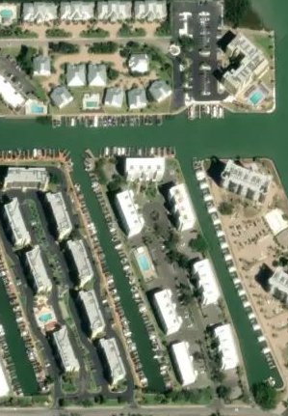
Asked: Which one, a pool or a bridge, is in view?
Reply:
pool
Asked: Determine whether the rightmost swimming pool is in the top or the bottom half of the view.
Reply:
top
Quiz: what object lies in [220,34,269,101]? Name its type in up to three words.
building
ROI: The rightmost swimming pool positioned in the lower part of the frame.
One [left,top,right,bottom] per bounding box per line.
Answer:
[134,245,156,280]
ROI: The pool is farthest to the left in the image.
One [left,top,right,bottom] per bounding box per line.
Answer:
[0,3,16,25]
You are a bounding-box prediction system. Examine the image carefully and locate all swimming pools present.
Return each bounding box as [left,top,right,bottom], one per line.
[244,83,269,109]
[0,3,16,25]
[26,98,46,115]
[35,304,55,327]
[82,94,99,110]
[134,245,156,280]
